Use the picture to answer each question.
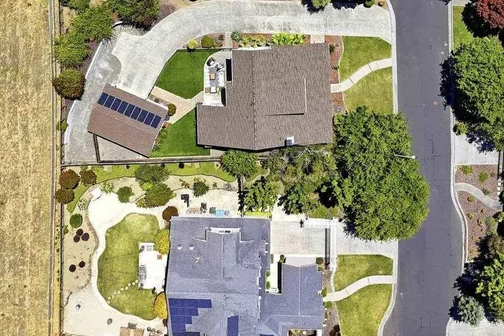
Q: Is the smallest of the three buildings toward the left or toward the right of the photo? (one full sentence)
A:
You can find the smallest of the three buildings on the left side of the picture.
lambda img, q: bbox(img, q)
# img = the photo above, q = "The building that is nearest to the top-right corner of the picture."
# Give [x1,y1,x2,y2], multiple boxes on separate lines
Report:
[196,47,332,151]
